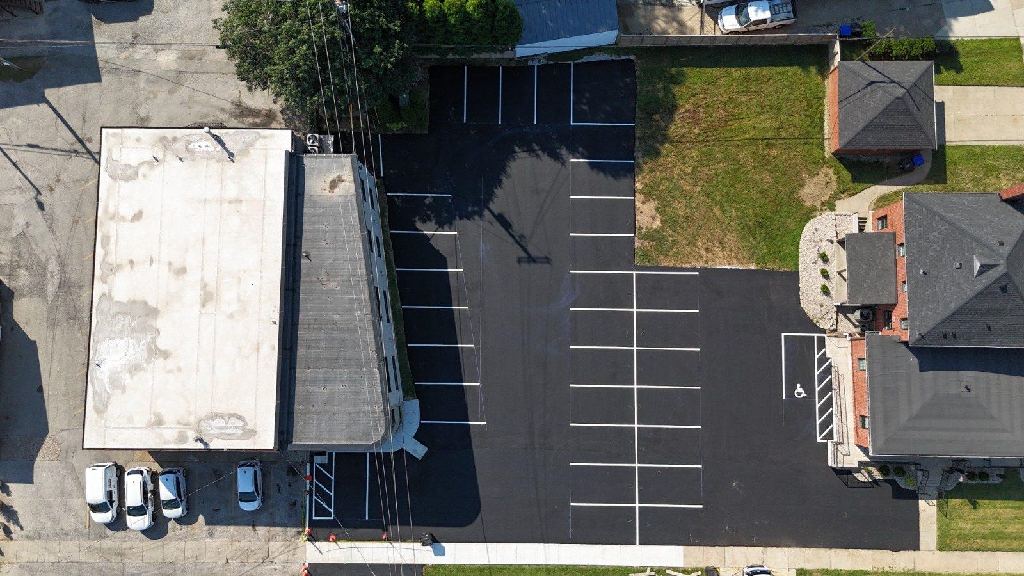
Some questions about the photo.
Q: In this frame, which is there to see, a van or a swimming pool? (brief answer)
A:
van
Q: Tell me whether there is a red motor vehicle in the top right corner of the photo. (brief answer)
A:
No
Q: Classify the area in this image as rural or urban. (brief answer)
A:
urban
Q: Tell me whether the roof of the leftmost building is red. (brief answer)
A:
No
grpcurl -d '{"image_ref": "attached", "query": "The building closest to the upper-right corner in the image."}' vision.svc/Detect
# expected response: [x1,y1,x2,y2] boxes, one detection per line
[824,60,938,157]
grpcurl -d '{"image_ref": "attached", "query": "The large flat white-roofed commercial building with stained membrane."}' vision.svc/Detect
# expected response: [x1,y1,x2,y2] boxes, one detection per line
[82,127,312,451]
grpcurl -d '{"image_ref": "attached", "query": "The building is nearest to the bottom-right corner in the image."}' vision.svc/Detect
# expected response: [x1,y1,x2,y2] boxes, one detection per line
[832,185,1024,459]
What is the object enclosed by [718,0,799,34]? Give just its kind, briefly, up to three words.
truck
